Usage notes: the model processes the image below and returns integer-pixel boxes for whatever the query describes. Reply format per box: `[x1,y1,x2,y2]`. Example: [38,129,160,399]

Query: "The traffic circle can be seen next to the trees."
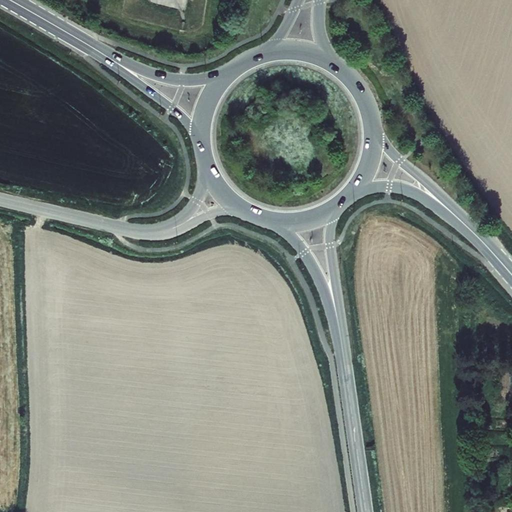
[190,38,384,234]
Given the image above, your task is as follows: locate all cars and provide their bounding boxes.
[354,174,362,185]
[112,53,123,62]
[253,54,264,60]
[173,108,183,118]
[356,81,365,92]
[329,63,340,72]
[196,140,204,152]
[104,58,114,66]
[338,196,345,207]
[208,72,218,77]
[146,88,156,97]
[364,138,370,148]
[154,71,166,78]
[252,206,263,214]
